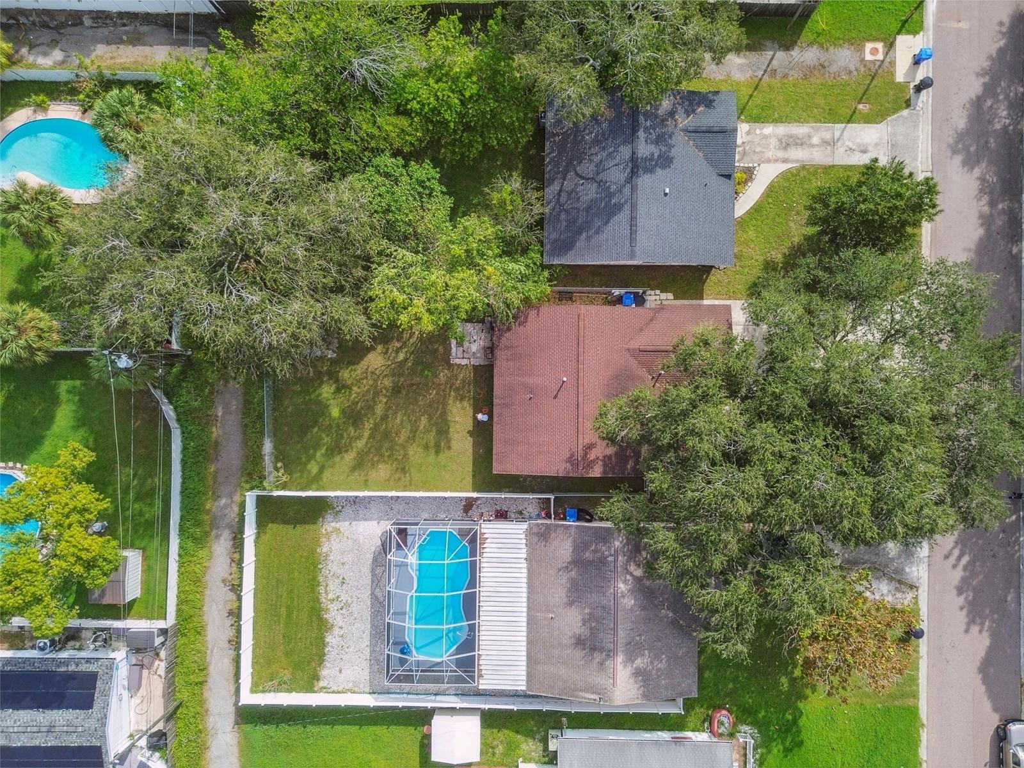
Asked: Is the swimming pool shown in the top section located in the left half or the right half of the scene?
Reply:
left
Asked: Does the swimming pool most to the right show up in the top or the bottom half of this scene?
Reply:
bottom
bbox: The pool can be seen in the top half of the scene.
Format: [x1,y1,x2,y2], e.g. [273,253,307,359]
[0,104,137,204]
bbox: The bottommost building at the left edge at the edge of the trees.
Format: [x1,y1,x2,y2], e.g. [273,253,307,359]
[0,649,129,768]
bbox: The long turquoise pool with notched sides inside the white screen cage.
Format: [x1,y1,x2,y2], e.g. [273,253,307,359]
[395,526,481,667]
